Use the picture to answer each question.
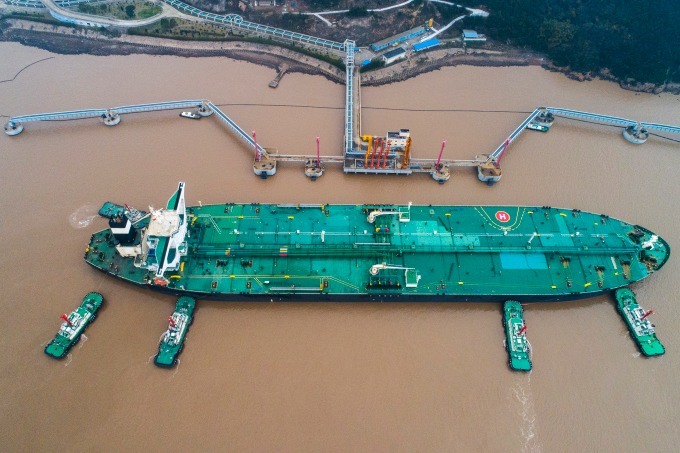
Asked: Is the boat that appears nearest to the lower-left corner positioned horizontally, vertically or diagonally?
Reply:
diagonally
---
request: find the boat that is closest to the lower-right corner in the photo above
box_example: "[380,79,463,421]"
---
[617,286,666,357]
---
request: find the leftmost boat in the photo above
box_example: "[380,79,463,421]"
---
[42,290,103,363]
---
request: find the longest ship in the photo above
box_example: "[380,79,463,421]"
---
[83,179,671,302]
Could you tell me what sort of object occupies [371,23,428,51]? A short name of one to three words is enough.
building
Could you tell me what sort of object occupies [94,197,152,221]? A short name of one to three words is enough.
boat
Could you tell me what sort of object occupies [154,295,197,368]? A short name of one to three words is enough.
boat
